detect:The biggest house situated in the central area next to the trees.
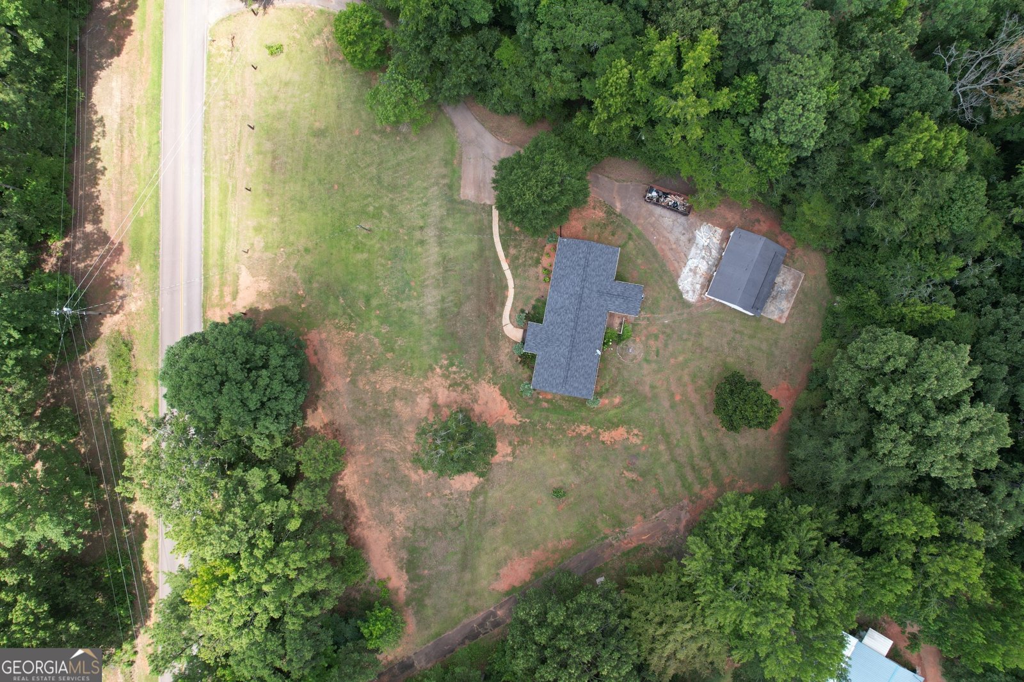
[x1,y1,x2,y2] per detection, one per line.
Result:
[520,238,643,398]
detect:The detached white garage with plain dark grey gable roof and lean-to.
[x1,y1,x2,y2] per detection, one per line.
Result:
[703,227,788,320]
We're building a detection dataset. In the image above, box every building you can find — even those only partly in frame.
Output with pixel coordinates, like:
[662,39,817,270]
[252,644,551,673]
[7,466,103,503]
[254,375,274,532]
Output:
[520,238,643,398]
[703,227,788,320]
[811,632,924,682]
